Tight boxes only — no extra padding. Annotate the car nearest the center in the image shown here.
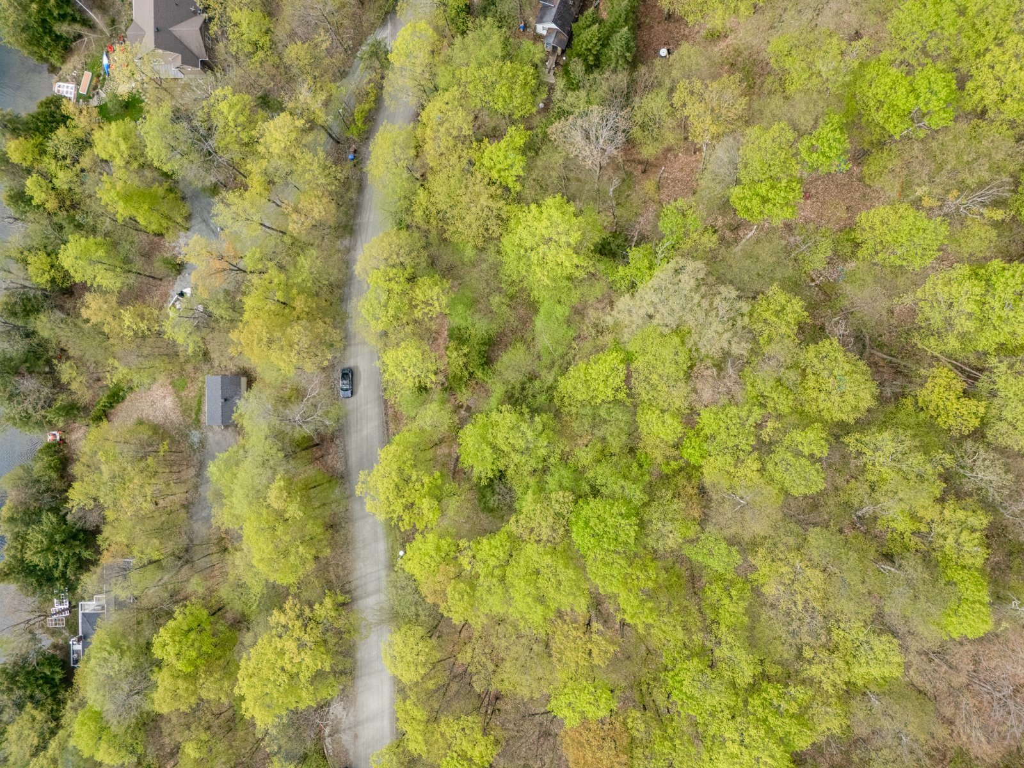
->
[337,368,352,398]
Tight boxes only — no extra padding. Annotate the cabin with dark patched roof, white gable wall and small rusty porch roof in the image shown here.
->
[537,0,586,59]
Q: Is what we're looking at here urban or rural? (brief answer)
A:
rural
